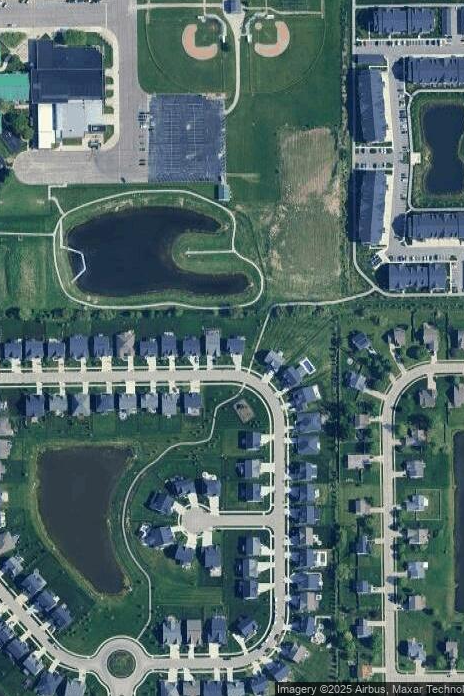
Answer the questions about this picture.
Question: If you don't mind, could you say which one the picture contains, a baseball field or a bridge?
baseball field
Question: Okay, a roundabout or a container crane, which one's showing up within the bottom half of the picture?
roundabout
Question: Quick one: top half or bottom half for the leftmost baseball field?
top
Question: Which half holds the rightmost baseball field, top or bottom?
top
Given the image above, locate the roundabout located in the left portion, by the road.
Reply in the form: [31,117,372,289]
[95,638,149,692]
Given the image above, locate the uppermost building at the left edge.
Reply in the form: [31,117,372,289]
[0,39,105,149]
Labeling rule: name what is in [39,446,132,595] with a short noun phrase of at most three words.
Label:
pond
